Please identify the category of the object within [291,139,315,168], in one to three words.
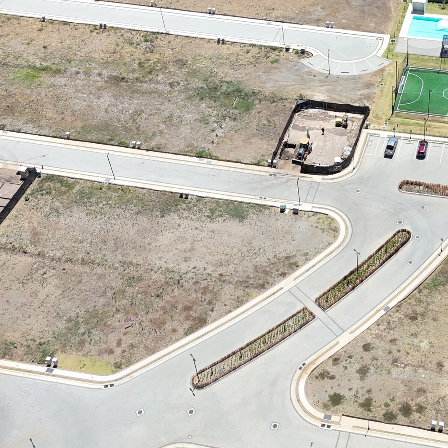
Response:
work vehicle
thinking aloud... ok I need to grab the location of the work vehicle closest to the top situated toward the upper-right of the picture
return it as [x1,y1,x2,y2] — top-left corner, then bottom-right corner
[332,112,351,128]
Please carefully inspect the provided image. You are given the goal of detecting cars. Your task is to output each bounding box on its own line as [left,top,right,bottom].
[415,141,427,158]
[383,138,396,157]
